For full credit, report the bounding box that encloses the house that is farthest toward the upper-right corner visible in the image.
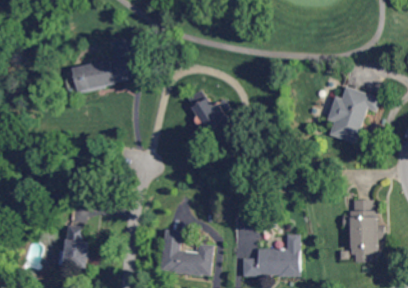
[324,84,378,140]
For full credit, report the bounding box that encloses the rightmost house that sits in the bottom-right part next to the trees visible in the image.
[349,196,386,264]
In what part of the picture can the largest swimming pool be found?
bottom left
